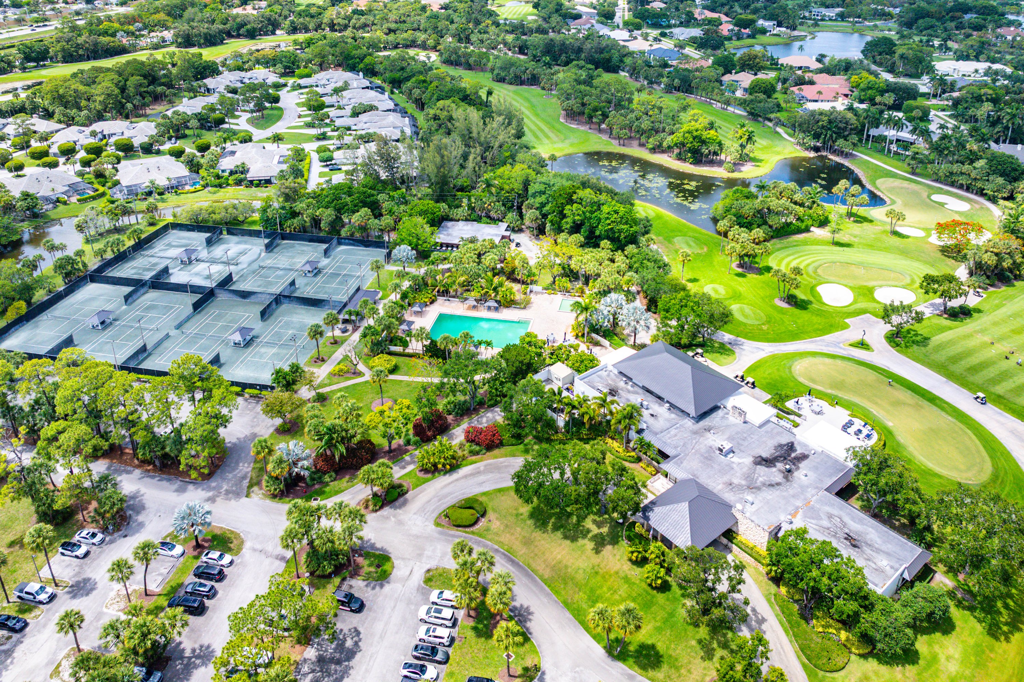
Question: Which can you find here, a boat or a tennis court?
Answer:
tennis court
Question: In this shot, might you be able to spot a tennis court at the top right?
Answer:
No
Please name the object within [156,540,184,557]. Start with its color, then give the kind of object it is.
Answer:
white car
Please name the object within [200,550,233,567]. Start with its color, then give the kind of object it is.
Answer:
white car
